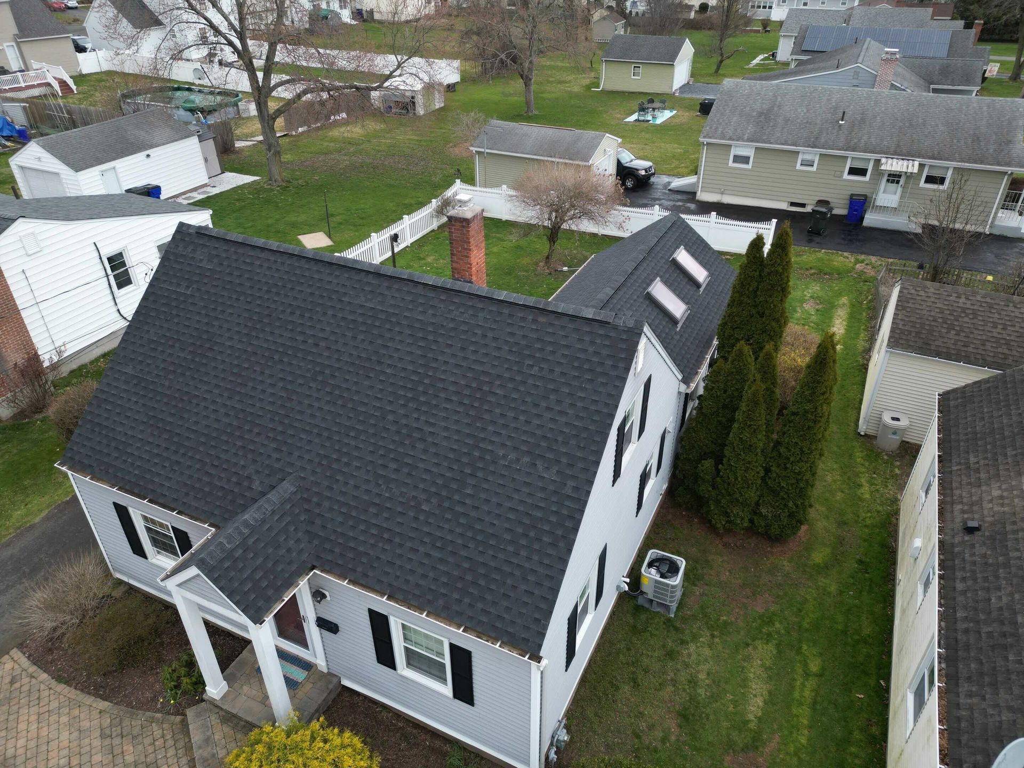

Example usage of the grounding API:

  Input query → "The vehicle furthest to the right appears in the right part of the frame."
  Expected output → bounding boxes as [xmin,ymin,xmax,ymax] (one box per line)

[604,142,660,188]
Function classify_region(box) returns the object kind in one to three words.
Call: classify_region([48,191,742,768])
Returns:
house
